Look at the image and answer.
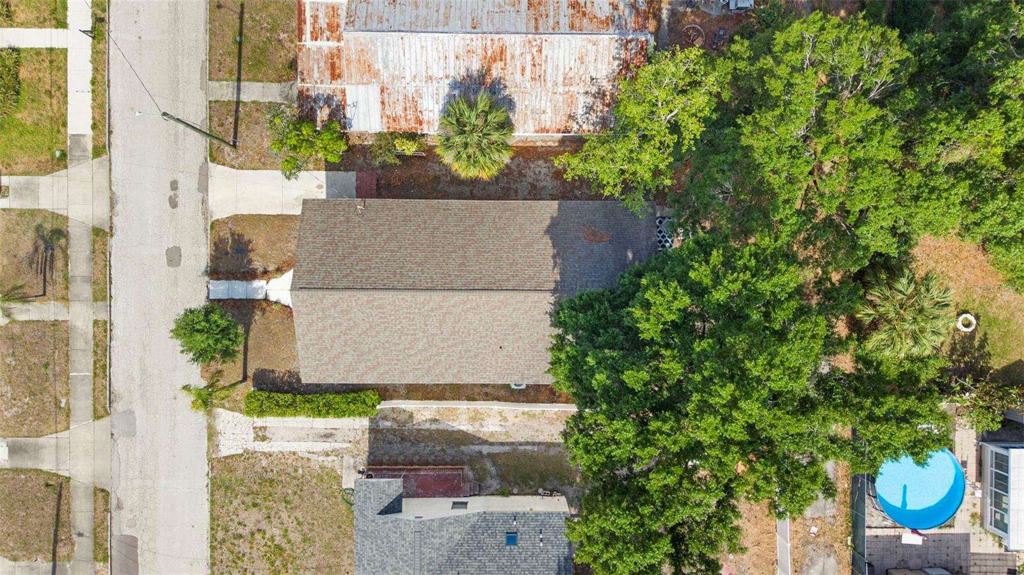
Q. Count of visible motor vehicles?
none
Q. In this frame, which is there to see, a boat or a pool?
pool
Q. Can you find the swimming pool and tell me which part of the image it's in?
bottom right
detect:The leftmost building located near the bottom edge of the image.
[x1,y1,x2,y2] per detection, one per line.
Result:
[354,466,570,575]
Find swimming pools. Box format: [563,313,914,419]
[866,435,966,530]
